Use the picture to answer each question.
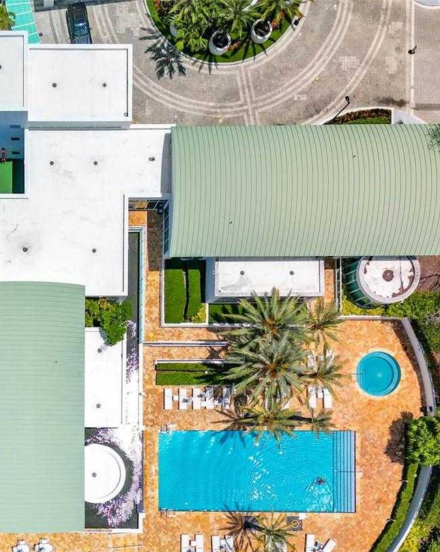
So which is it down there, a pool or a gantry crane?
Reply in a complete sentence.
Visible in the photo is a pool.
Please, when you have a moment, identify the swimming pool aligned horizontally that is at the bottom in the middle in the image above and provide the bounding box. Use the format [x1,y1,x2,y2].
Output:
[158,424,368,514]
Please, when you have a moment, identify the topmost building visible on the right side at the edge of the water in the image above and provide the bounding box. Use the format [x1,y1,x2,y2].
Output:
[163,124,440,263]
